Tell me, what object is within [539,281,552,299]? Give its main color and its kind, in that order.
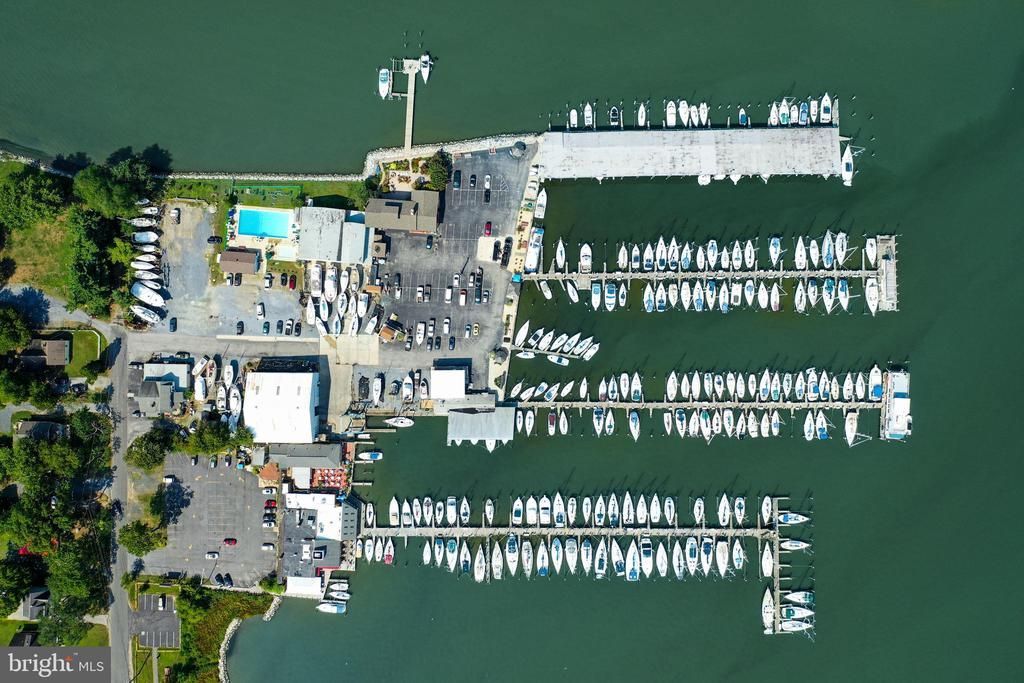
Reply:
white boat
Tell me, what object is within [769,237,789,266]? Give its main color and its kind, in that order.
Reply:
white boat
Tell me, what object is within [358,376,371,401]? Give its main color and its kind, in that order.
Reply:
black boat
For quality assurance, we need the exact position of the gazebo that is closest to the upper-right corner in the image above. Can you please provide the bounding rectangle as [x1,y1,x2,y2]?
[511,142,524,157]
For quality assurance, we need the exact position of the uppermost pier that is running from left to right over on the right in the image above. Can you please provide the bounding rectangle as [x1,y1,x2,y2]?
[541,99,852,179]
